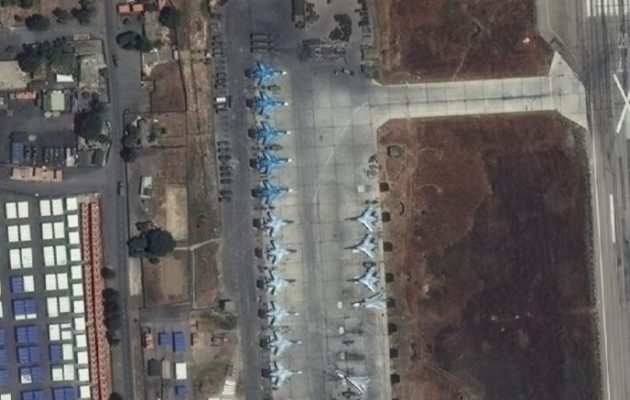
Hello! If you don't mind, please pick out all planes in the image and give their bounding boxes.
[268,359,301,385]
[253,60,287,83]
[348,268,381,293]
[256,149,290,172]
[264,239,297,264]
[347,208,380,233]
[337,373,370,391]
[352,294,385,310]
[268,330,300,355]
[261,210,294,234]
[255,121,290,143]
[263,268,296,293]
[265,302,298,327]
[257,179,291,201]
[254,92,288,114]
[348,238,380,263]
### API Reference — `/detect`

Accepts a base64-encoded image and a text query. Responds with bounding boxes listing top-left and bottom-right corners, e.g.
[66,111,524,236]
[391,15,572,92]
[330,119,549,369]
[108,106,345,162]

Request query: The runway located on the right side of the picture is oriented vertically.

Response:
[586,0,630,400]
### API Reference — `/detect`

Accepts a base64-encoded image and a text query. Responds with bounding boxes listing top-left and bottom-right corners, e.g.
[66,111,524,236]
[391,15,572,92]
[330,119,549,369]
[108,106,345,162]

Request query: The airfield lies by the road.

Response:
[213,0,630,400]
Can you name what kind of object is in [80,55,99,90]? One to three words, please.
building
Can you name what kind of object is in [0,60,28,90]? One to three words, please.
building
